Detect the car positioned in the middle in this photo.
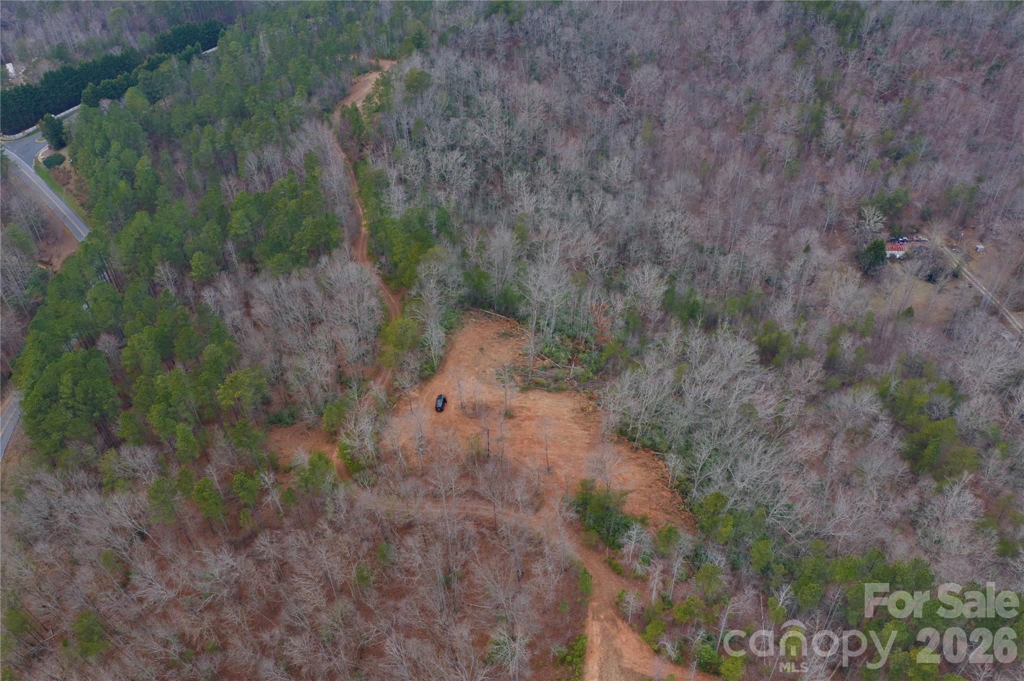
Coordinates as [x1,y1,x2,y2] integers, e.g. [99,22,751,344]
[435,395,449,412]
